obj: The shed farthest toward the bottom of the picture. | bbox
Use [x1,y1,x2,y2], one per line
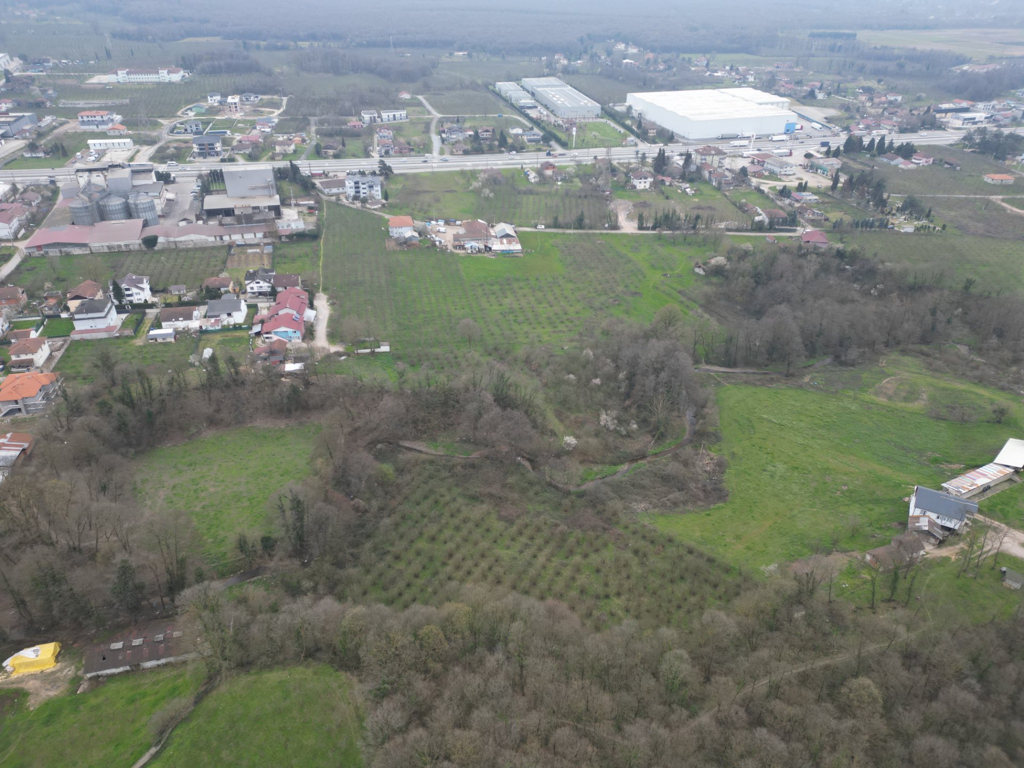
[84,616,205,681]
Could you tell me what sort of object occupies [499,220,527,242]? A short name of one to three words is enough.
barn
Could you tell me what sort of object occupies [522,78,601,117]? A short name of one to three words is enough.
building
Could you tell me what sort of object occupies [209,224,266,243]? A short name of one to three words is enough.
shed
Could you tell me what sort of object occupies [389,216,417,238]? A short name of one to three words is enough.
house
